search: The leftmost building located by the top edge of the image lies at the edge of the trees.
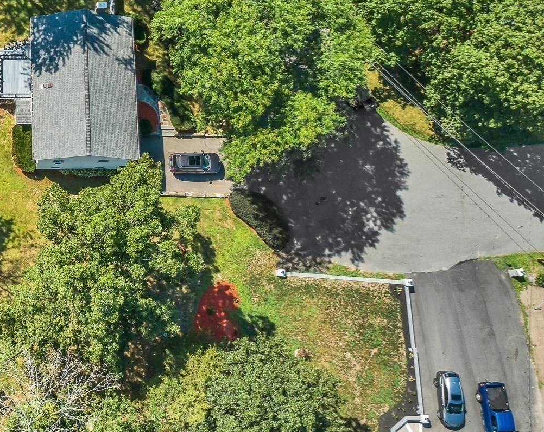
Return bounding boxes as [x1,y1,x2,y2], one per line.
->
[30,0,140,167]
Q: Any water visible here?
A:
No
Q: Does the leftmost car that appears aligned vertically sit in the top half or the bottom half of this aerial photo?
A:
bottom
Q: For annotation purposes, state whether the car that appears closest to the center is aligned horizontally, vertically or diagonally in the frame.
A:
horizontally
